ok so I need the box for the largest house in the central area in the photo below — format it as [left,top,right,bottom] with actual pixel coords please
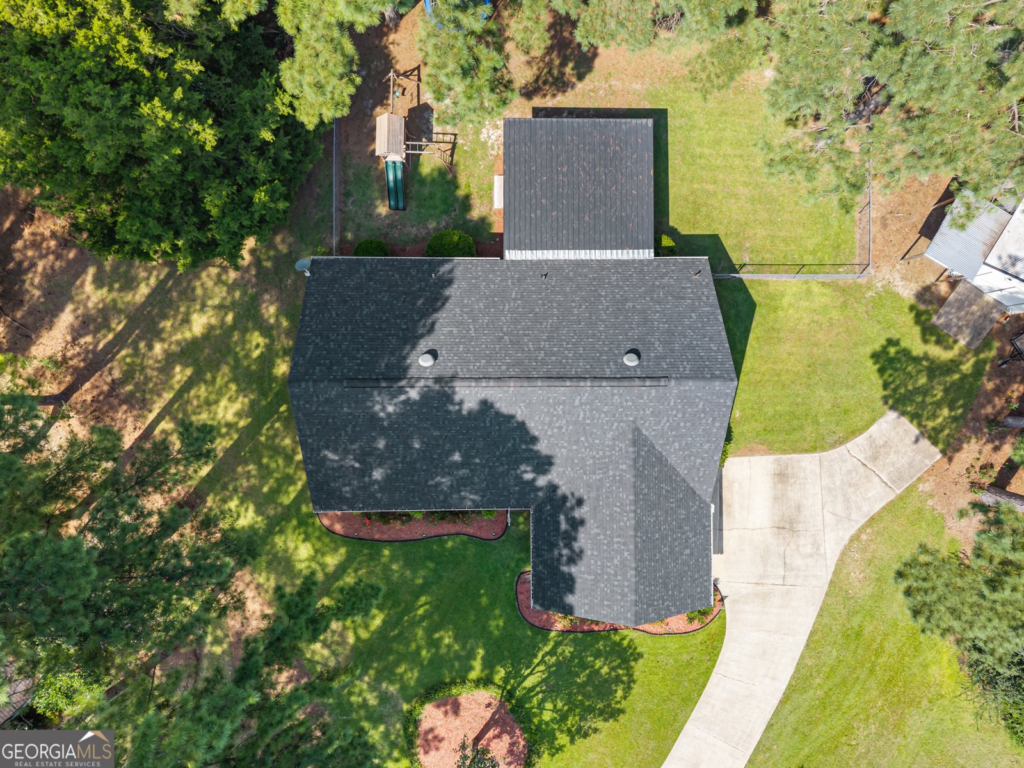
[287,255,736,627]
